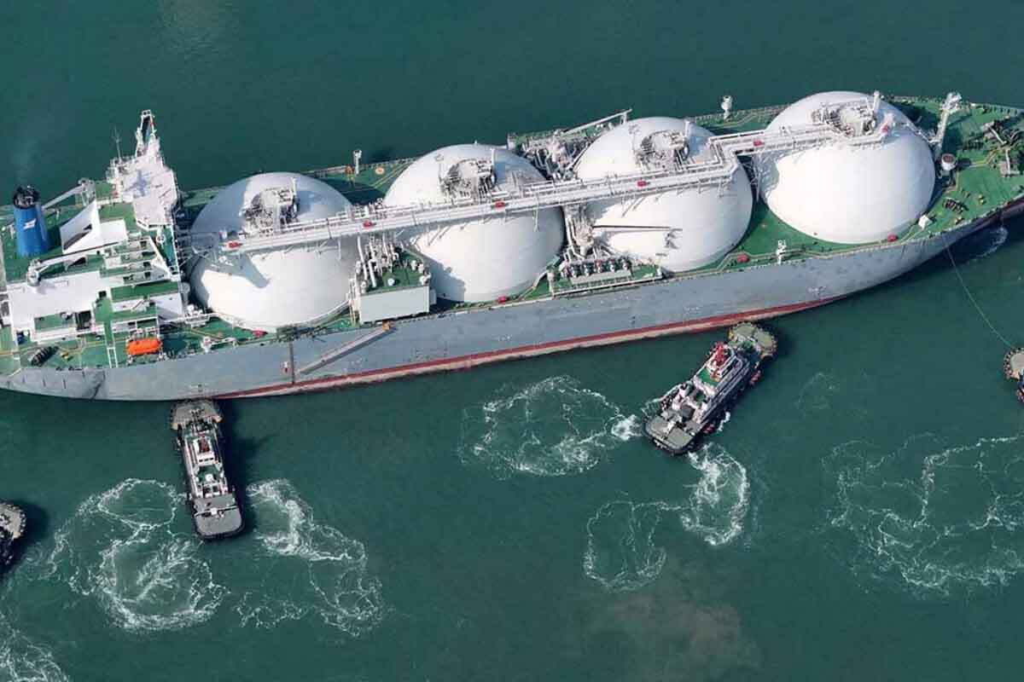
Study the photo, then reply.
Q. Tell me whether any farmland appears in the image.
No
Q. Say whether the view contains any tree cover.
No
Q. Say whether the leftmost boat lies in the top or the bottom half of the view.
bottom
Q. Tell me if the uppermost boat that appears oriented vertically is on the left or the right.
right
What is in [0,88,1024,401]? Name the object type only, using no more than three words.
ship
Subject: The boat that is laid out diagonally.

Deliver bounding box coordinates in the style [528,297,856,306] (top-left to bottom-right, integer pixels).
[642,315,775,458]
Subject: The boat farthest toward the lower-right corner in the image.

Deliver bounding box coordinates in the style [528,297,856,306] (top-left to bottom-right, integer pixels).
[1001,345,1024,398]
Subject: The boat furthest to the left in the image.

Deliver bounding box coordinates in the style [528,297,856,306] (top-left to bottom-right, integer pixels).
[0,501,33,580]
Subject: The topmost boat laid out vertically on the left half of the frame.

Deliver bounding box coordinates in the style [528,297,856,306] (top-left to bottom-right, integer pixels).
[170,396,246,540]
